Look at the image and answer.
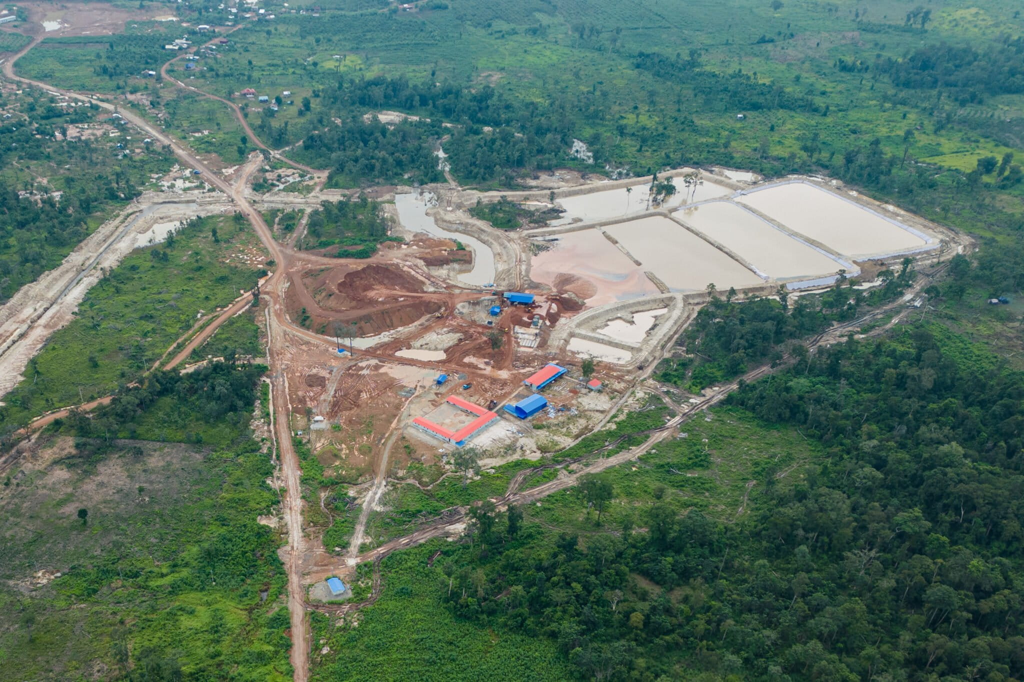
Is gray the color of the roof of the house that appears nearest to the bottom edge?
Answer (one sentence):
No, the roof of the house that appears nearest to the bottom edge is blue.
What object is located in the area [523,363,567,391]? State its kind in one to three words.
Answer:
building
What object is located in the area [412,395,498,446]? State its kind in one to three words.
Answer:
building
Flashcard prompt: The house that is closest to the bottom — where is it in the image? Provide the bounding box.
[324,574,347,598]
